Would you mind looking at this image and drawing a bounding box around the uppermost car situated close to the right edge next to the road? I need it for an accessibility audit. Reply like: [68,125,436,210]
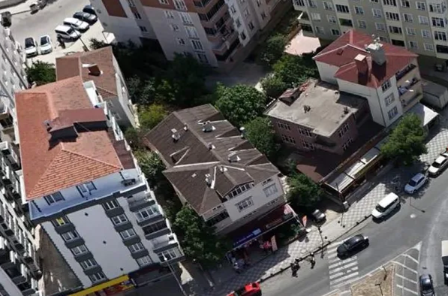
[427,154,448,177]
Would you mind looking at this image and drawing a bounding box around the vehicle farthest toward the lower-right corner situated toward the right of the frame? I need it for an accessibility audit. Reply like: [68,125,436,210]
[419,274,435,296]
